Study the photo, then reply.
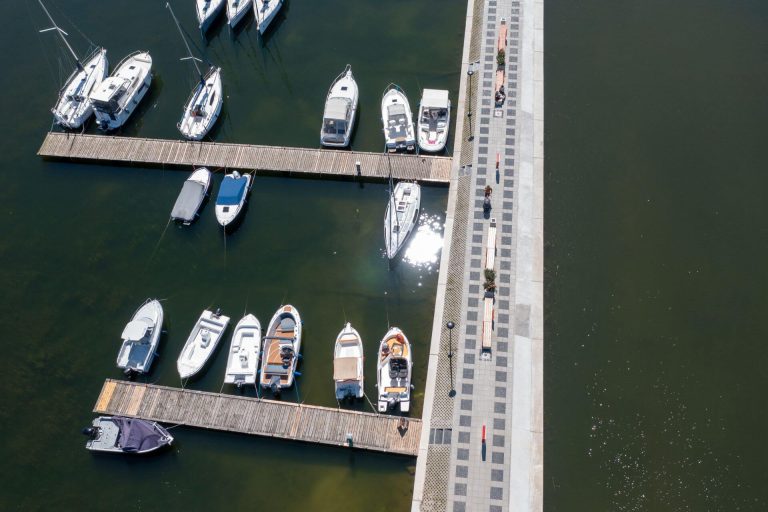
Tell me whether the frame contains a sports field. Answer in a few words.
No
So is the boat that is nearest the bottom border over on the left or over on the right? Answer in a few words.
left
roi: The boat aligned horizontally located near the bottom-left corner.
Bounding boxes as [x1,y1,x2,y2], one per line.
[81,418,176,453]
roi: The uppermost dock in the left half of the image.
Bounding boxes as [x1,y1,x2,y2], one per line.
[34,132,452,186]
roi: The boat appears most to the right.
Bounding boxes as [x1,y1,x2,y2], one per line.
[416,87,453,152]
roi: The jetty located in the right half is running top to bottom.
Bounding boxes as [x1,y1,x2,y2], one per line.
[411,0,543,512]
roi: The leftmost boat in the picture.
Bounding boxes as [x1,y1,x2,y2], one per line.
[22,0,108,131]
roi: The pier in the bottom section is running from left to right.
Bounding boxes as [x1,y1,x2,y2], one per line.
[92,379,422,457]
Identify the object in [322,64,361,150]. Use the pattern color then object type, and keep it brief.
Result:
white boat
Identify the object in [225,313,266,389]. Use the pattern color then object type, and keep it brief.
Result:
white boat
